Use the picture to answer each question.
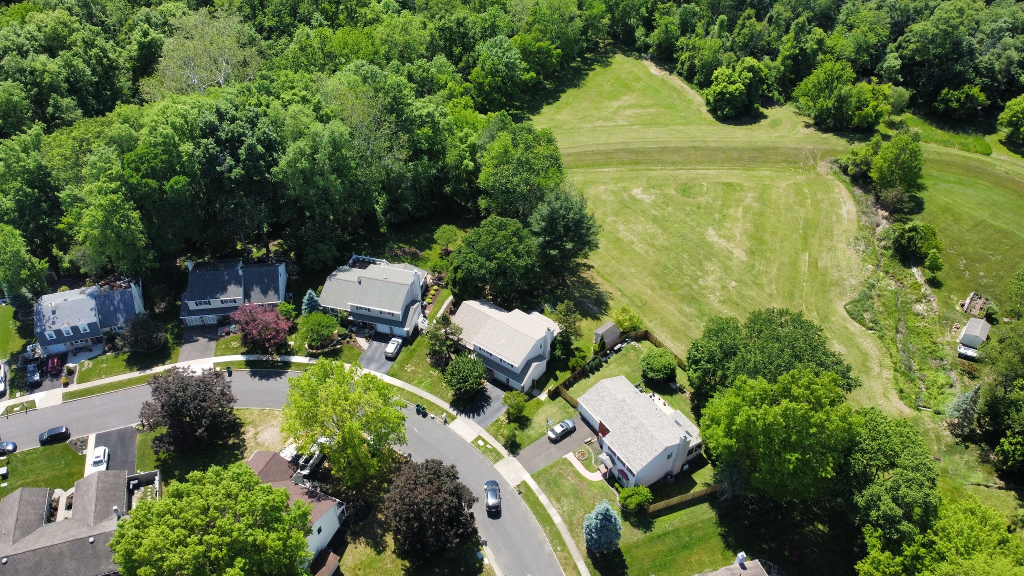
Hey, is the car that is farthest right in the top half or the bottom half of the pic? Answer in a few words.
bottom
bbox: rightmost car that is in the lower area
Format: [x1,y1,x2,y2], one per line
[546,418,577,442]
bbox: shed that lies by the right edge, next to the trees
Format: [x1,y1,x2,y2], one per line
[945,314,988,347]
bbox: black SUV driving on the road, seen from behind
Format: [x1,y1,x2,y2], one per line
[484,481,501,514]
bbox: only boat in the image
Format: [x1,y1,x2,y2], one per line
[951,348,987,362]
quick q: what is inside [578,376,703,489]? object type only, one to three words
house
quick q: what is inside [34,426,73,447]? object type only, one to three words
car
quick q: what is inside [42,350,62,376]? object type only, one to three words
car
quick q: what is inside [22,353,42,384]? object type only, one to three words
vehicle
